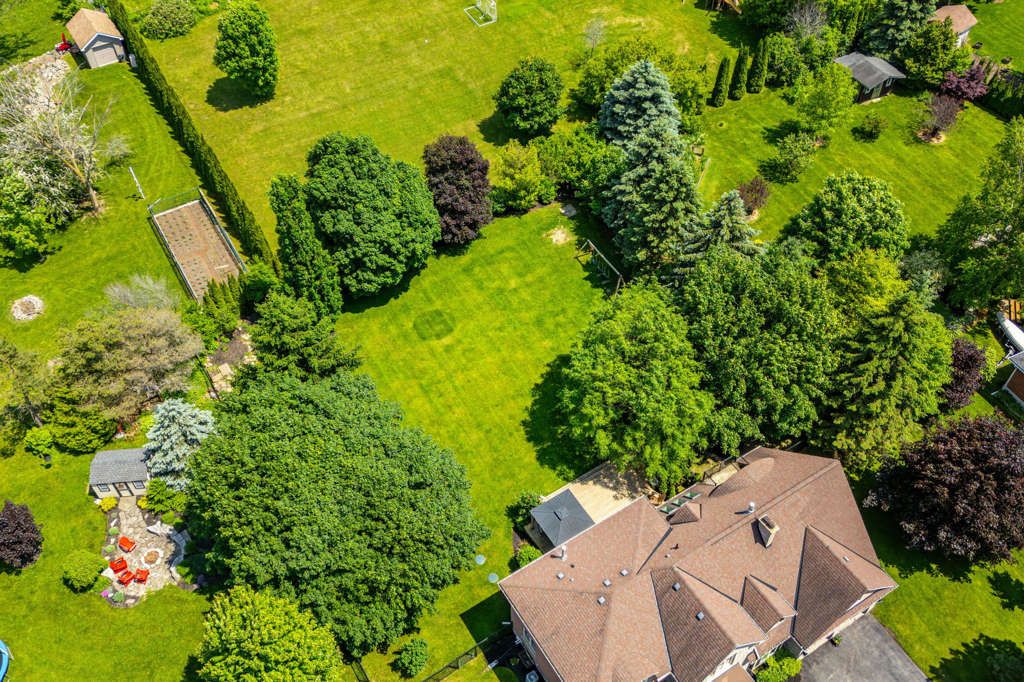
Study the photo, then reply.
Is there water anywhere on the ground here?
No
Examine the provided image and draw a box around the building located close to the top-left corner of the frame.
[61,6,128,70]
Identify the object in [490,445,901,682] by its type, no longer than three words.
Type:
house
